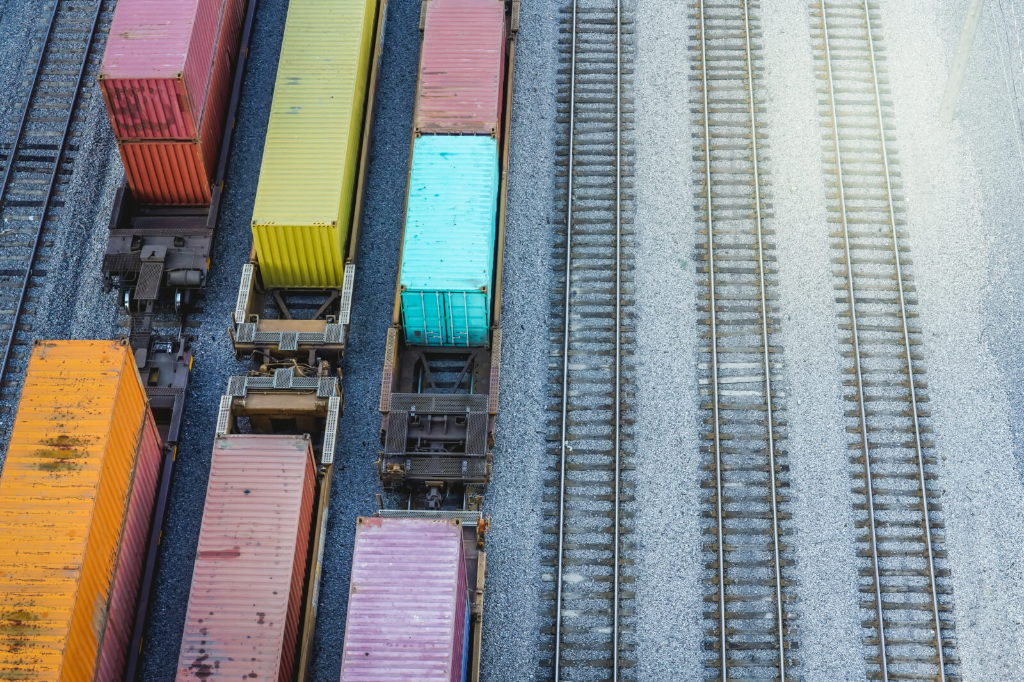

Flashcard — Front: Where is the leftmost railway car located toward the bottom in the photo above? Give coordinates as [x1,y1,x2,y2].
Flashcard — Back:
[122,314,195,682]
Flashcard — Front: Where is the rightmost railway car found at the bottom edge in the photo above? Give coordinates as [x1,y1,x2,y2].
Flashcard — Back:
[371,497,494,682]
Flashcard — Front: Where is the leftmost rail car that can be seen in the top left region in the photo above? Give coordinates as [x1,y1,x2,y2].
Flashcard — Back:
[98,0,263,330]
